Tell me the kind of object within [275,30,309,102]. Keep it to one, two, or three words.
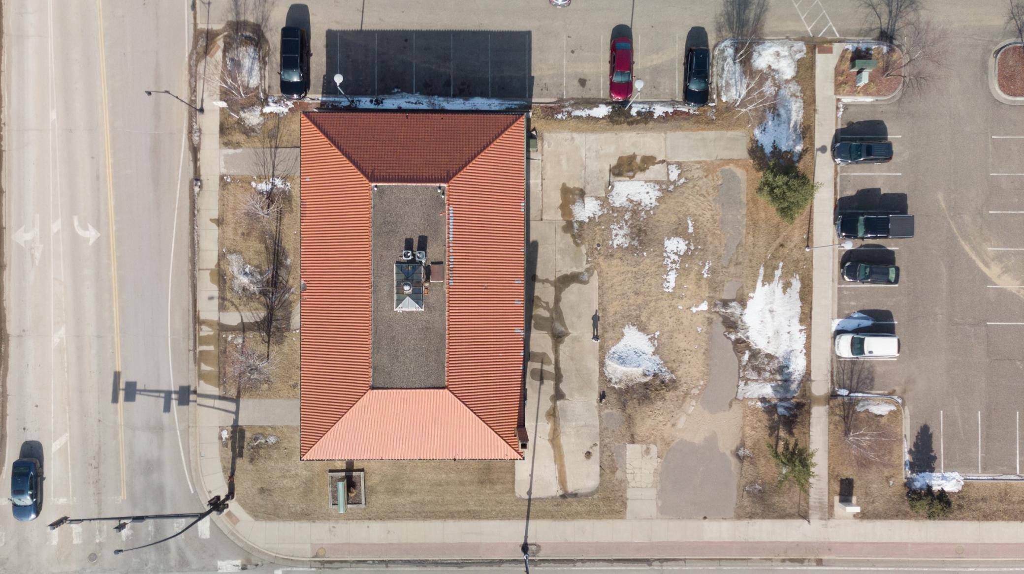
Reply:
car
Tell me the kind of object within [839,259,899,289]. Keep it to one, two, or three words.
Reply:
car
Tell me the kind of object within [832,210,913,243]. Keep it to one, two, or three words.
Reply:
truck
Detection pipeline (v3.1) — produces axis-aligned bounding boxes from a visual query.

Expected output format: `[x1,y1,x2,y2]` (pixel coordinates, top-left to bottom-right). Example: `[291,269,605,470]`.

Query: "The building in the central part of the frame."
[298,110,528,463]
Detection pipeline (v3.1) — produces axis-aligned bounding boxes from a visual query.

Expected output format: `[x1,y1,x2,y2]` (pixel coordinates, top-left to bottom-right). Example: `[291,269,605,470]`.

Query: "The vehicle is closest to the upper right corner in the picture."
[829,135,892,166]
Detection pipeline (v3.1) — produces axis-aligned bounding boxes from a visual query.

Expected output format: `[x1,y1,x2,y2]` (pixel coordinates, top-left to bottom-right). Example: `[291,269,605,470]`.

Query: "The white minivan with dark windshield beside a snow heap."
[832,331,899,362]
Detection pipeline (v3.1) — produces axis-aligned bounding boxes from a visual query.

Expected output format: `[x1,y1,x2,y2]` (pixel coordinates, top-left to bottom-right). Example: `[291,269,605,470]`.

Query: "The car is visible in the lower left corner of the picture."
[7,456,42,521]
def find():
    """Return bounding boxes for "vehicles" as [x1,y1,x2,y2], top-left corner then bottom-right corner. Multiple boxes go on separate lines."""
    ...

[832,331,899,362]
[839,259,899,289]
[682,45,713,107]
[606,37,636,103]
[7,456,42,521]
[829,135,892,166]
[832,210,913,243]
[275,30,309,102]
